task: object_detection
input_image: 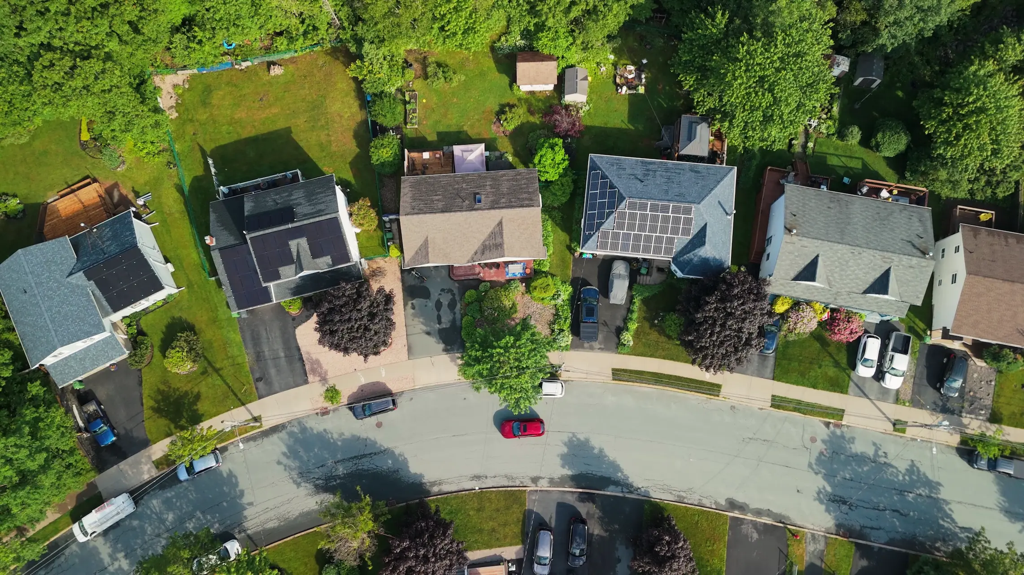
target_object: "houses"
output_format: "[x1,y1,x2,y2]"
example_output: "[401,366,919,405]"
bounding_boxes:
[399,167,547,272]
[759,183,936,321]
[579,154,737,282]
[932,224,1024,352]
[0,210,185,386]
[202,173,368,313]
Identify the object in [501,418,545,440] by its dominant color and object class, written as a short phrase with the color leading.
red car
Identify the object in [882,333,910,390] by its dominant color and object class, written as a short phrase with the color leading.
white truck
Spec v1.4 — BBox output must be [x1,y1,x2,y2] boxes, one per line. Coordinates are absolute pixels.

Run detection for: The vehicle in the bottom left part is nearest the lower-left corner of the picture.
[72,494,137,543]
